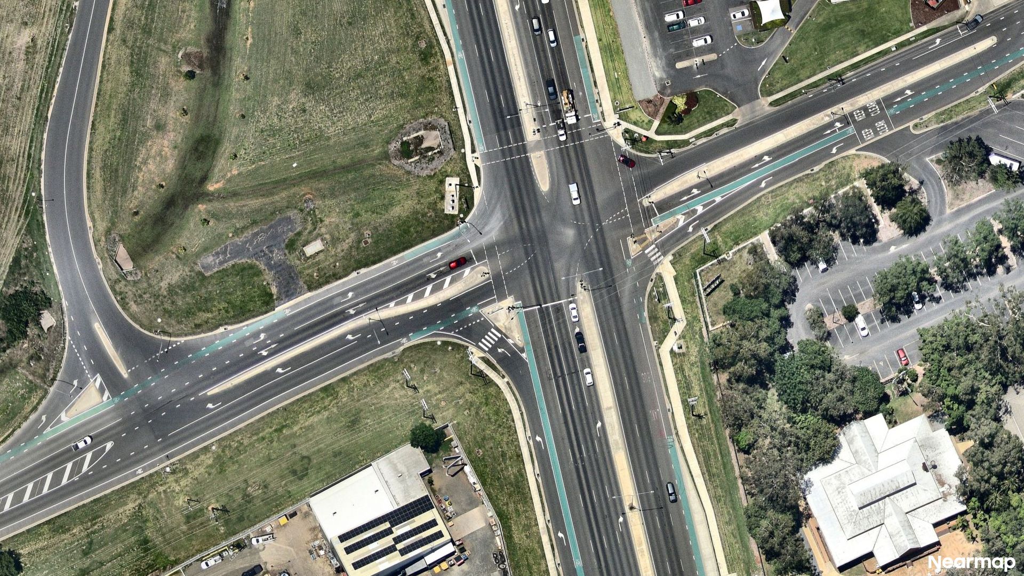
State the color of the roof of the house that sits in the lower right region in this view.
white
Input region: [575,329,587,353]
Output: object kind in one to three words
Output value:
vehicle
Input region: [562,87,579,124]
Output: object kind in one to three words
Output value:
vehicle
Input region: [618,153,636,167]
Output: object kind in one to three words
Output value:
car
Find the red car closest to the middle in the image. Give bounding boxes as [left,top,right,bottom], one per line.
[448,256,467,269]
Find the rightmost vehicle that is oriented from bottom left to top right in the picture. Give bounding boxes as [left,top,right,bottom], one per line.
[964,14,981,33]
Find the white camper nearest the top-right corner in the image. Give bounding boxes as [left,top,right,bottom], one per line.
[988,152,1016,172]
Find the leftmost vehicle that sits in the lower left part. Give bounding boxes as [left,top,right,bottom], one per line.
[70,435,92,450]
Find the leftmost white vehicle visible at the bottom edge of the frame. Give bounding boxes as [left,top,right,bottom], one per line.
[200,553,226,568]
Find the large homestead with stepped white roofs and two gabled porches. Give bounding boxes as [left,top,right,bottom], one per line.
[802,414,967,568]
